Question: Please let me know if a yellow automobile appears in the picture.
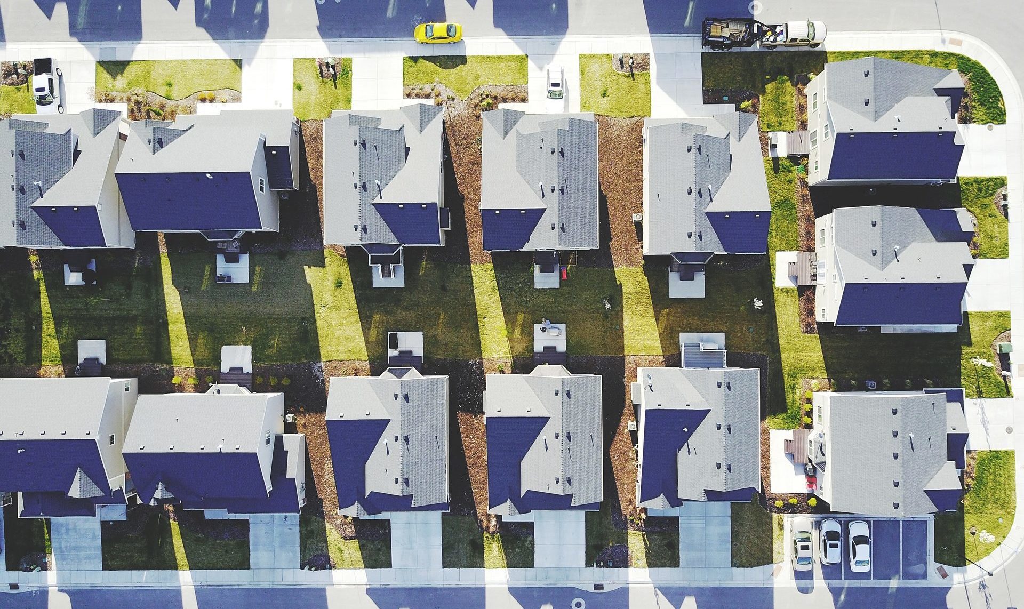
Yes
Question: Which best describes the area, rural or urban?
urban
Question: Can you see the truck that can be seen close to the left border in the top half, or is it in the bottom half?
top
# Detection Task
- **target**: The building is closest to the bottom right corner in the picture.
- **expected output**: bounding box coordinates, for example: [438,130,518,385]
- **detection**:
[799,387,978,520]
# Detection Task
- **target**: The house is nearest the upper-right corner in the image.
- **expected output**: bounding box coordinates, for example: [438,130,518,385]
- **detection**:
[809,56,965,185]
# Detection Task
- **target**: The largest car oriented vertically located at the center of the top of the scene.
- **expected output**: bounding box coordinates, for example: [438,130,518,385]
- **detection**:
[544,63,568,113]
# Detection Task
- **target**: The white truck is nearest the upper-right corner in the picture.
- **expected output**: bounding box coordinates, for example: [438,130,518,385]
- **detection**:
[759,19,830,50]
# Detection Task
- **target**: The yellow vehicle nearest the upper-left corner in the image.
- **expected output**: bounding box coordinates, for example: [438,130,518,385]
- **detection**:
[415,19,463,44]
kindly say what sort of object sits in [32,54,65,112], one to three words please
truck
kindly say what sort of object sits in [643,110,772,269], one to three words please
house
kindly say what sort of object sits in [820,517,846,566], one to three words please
car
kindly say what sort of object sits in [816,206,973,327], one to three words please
house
